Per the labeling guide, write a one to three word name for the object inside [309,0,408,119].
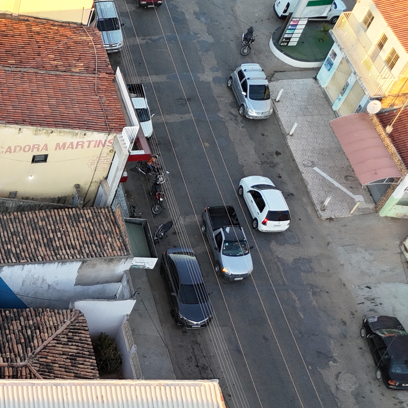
house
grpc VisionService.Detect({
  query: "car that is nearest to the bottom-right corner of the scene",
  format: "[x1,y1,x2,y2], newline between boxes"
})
[363,312,408,390]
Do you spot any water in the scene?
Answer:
No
